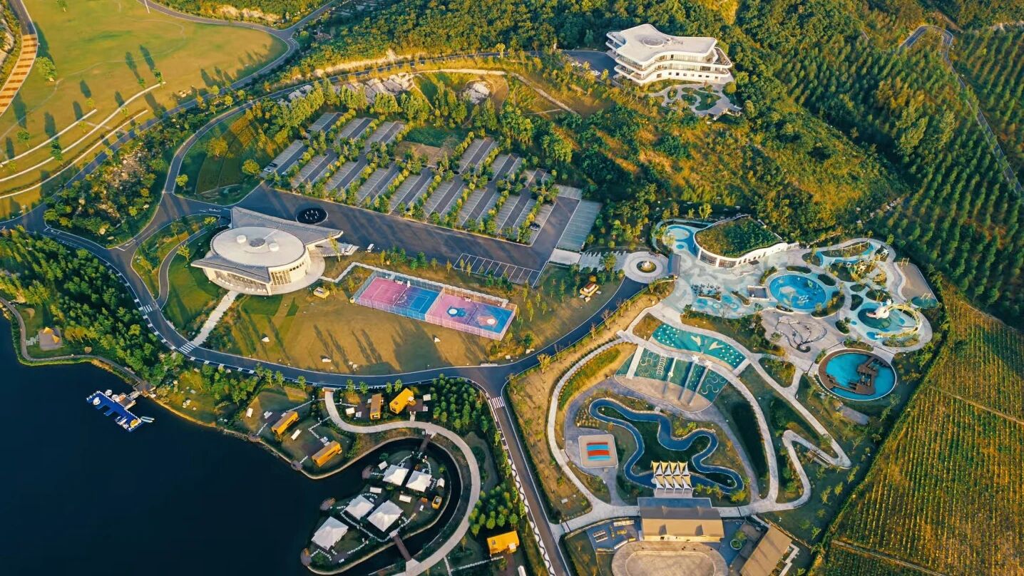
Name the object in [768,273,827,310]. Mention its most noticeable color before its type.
blue swimming pool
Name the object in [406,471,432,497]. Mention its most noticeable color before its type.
white tent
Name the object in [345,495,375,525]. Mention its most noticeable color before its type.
white tent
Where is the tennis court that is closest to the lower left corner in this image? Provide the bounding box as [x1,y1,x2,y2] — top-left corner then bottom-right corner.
[355,277,440,320]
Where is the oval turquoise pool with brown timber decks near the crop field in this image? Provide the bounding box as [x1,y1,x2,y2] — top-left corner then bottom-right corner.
[818,347,898,401]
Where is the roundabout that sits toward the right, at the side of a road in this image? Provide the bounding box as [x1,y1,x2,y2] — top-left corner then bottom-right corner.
[623,252,670,283]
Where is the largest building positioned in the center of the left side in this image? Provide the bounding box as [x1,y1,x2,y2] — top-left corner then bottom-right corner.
[191,206,359,297]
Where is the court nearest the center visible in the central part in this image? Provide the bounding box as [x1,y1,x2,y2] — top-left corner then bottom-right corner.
[424,292,515,340]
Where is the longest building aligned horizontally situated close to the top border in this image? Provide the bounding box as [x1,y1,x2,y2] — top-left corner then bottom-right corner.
[605,24,732,85]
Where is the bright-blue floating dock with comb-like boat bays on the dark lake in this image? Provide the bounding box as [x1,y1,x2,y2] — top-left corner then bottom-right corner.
[87,391,142,433]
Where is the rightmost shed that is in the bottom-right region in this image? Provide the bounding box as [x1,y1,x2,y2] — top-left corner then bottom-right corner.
[738,526,791,576]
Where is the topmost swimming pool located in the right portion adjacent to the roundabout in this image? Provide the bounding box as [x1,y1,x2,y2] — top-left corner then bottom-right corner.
[664,223,698,258]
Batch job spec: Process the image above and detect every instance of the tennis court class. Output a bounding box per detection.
[424,292,515,340]
[355,277,440,320]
